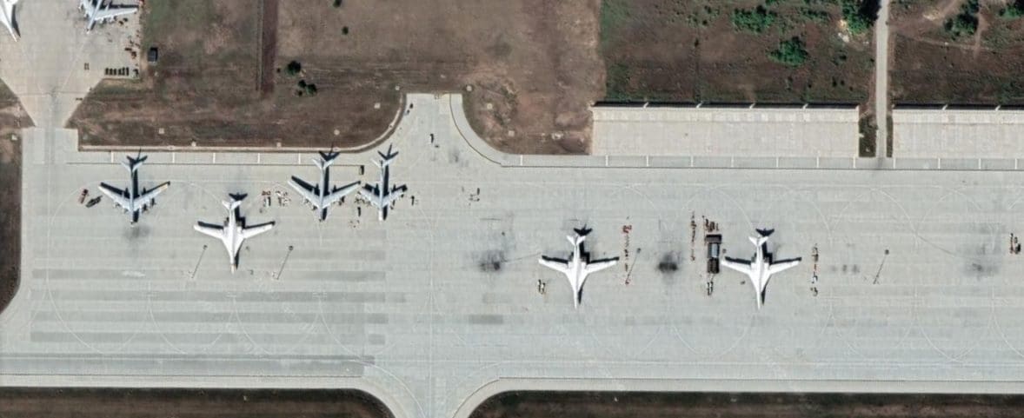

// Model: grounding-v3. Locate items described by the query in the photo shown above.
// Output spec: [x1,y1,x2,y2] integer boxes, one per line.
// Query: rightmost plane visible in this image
[720,233,798,308]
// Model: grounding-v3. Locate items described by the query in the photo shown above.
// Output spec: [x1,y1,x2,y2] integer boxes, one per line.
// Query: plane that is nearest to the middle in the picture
[537,232,615,307]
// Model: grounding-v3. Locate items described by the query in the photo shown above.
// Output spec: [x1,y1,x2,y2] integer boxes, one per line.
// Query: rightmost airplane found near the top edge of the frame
[78,0,135,33]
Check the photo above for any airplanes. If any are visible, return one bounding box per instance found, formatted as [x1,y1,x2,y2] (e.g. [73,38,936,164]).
[98,158,166,225]
[78,0,135,33]
[537,232,615,307]
[195,197,271,272]
[288,154,357,224]
[0,0,19,42]
[720,233,798,308]
[361,153,401,220]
